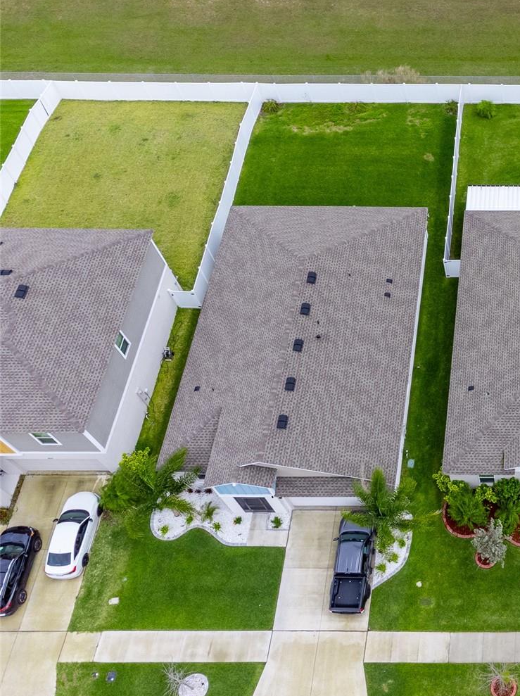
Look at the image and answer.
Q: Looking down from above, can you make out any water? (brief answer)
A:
No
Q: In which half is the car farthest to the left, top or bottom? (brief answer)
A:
bottom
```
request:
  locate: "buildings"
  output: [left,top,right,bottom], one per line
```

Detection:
[0,232,178,508]
[441,210,520,489]
[161,207,429,516]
